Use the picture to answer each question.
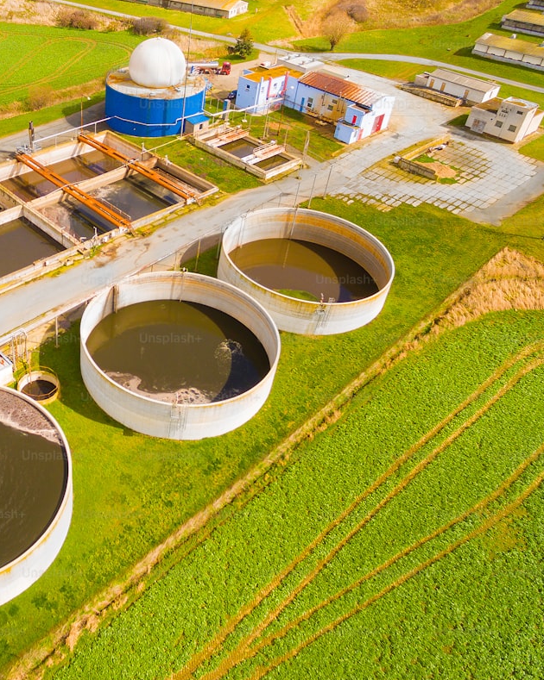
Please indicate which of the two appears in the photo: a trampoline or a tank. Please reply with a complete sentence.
I can see a tank in this picture.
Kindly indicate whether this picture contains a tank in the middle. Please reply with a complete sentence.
Yes, looking in the middle, one can make out a tank.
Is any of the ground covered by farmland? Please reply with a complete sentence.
Yes, some farmland is visible.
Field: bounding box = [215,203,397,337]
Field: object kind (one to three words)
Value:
storage tank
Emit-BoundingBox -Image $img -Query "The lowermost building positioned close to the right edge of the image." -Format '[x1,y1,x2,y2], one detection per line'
[465,95,544,142]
